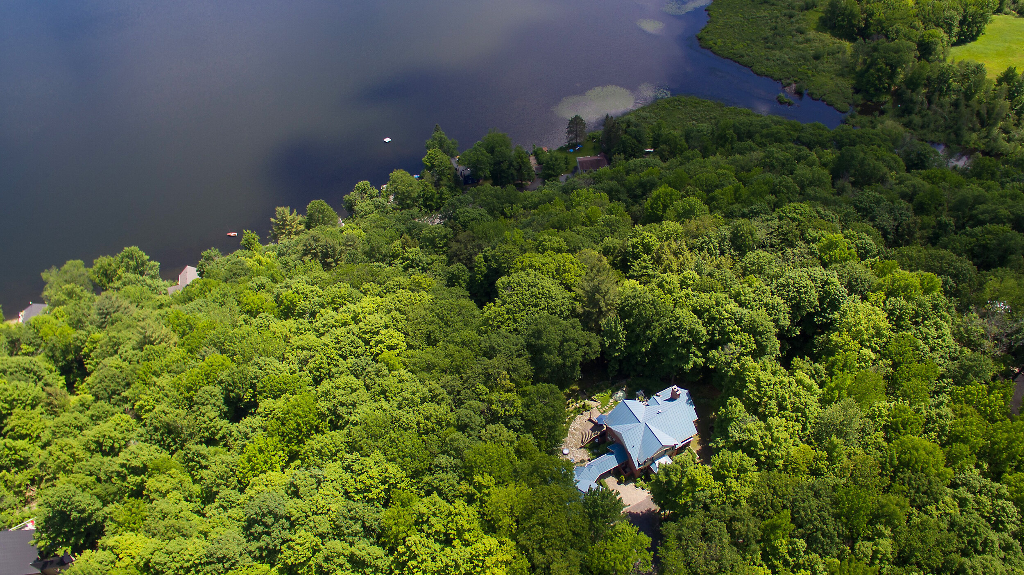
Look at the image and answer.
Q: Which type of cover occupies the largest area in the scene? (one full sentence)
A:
The bulk of the photo consists of trees.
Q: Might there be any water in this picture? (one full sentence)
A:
Yes, there's water in this view.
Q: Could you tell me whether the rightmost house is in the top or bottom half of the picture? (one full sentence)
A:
It is in the bottom half that the rightmost house appears.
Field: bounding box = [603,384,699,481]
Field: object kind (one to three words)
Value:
house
